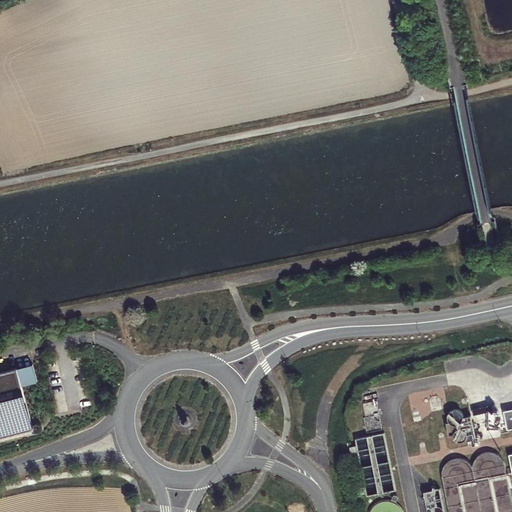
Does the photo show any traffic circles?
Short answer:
Yes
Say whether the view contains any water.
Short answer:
Yes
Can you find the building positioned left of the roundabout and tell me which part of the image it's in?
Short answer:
bottom left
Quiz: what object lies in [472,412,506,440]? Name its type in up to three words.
building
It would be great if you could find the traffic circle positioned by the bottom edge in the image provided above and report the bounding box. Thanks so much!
[116,350,256,489]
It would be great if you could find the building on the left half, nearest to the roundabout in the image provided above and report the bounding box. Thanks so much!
[0,366,38,442]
